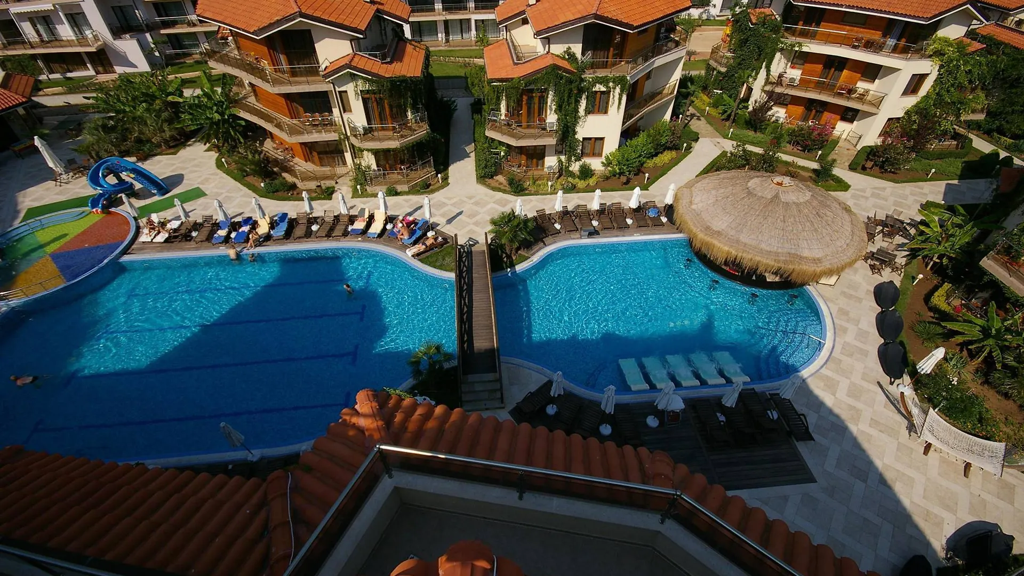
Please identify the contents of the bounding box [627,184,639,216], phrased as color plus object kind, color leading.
white umbrella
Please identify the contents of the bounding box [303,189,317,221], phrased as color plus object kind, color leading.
white umbrella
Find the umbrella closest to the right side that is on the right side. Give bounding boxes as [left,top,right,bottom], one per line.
[910,349,944,384]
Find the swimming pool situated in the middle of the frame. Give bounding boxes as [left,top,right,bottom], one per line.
[0,237,825,459]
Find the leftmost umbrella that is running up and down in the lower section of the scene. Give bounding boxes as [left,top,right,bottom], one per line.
[545,371,561,404]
